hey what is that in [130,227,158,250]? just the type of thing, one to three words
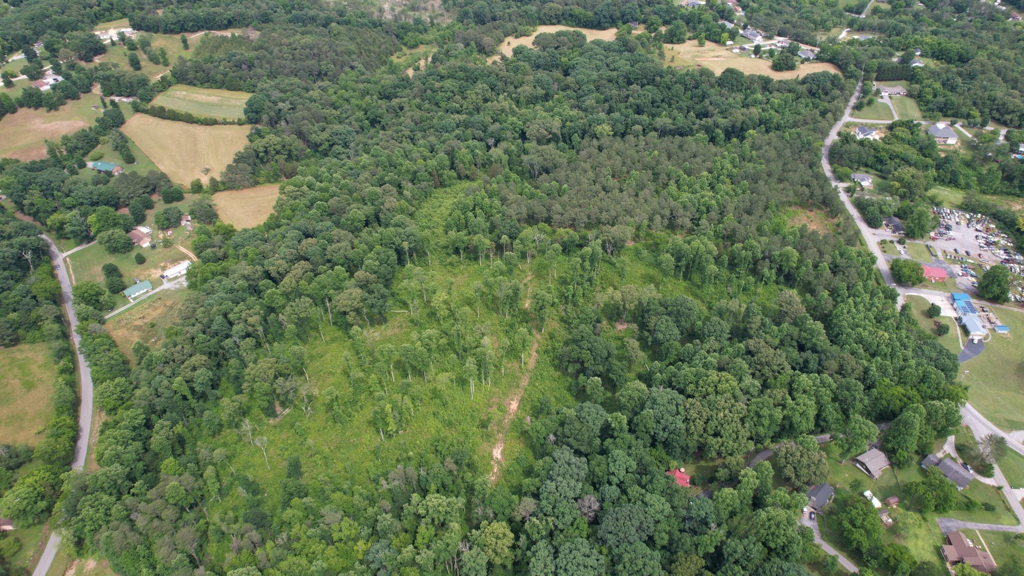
house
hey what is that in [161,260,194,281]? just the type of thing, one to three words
building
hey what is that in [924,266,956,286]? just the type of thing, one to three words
house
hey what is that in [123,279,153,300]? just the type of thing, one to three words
building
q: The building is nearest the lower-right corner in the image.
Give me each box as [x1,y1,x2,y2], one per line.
[938,530,1000,576]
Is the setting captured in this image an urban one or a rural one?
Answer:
rural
